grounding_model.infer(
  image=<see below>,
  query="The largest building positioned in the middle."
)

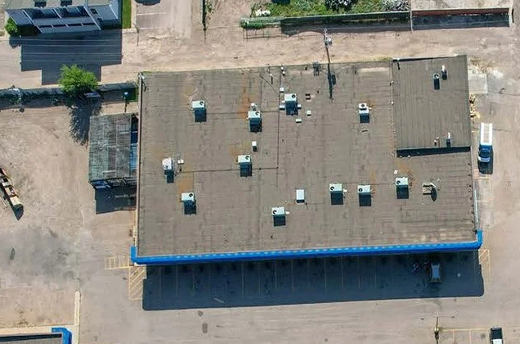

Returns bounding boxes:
[131,54,484,266]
